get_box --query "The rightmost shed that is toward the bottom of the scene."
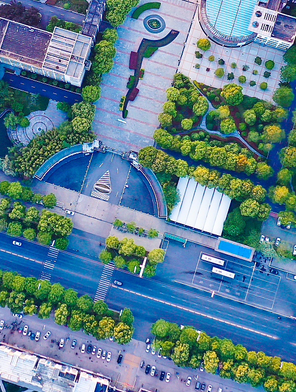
[215,235,256,261]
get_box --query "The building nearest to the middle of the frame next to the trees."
[139,165,167,217]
